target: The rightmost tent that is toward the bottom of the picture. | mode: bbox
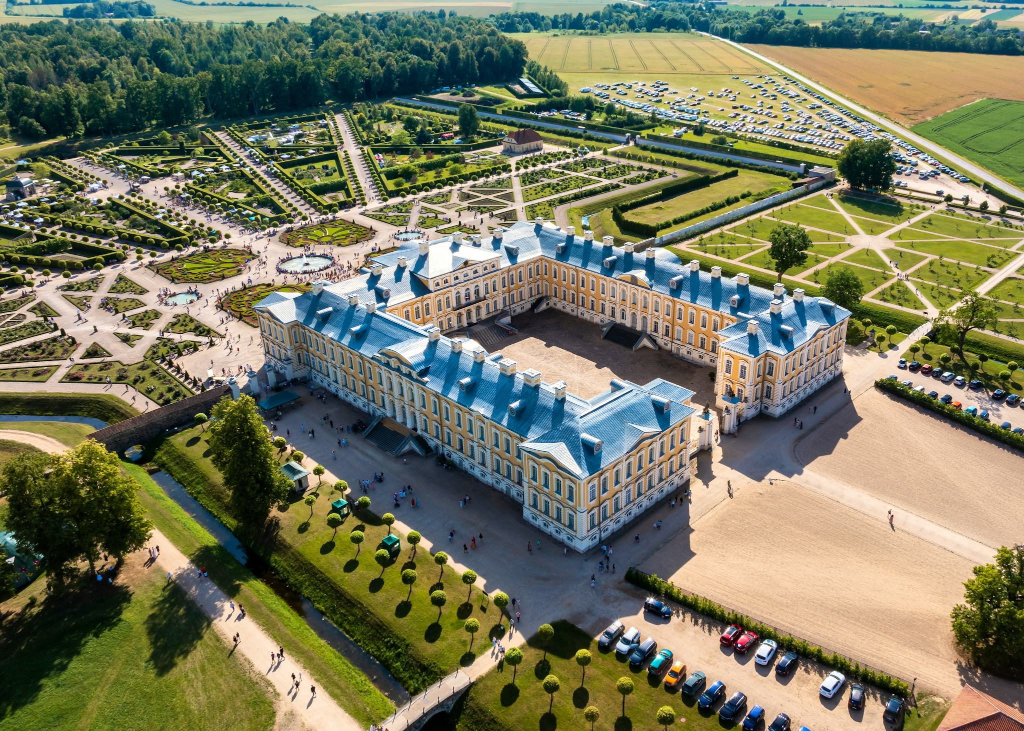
[381,534,403,559]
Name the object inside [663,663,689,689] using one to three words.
car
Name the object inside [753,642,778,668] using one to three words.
car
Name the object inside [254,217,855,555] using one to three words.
building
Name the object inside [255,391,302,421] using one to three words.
tent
